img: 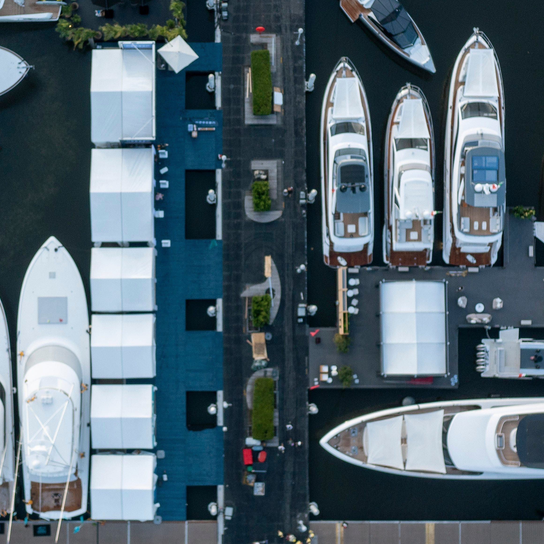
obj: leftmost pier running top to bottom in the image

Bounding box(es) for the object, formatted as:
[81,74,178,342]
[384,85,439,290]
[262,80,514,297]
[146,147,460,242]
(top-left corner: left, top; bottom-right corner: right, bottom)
[91,44,224,520]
